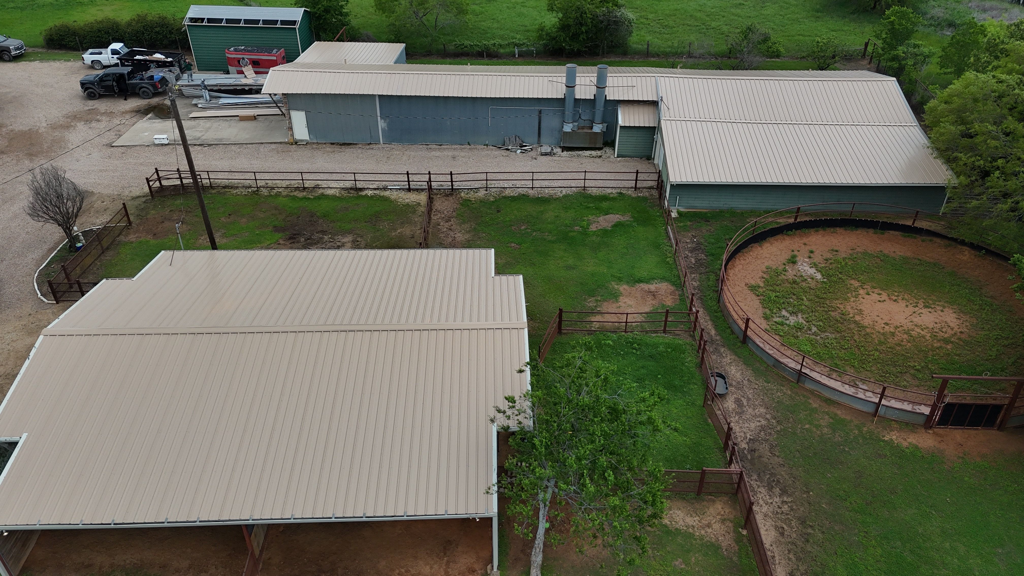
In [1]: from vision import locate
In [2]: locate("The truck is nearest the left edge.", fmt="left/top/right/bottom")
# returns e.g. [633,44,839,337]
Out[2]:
[0,31,31,61]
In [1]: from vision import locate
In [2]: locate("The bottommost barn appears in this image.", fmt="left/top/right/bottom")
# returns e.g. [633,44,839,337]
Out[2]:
[0,245,534,576]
